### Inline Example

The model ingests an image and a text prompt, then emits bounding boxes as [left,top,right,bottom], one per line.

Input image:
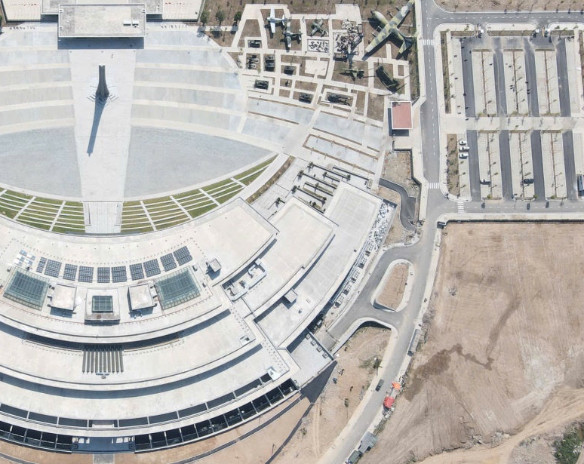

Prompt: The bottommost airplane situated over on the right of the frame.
[343,62,365,79]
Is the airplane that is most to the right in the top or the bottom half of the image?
top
